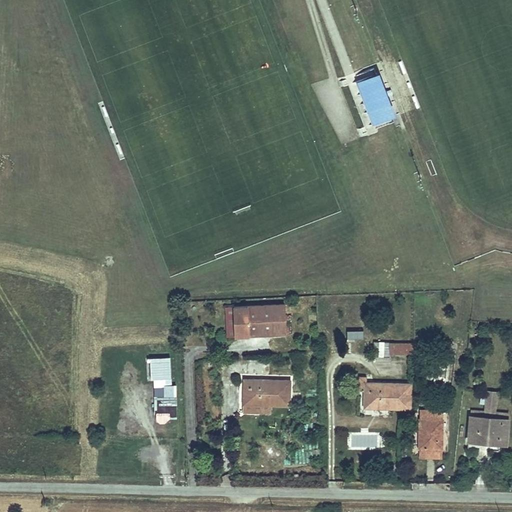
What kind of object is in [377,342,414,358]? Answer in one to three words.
building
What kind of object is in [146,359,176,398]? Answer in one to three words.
shed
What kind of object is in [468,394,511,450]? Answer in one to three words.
house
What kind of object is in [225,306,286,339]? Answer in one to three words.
house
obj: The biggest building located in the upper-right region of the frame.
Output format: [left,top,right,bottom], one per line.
[355,64,398,128]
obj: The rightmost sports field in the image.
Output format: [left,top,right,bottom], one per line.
[378,0,512,230]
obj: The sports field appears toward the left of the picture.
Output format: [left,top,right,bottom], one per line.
[63,0,340,276]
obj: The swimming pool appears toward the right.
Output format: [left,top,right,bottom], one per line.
[348,428,382,450]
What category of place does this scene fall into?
sports ground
